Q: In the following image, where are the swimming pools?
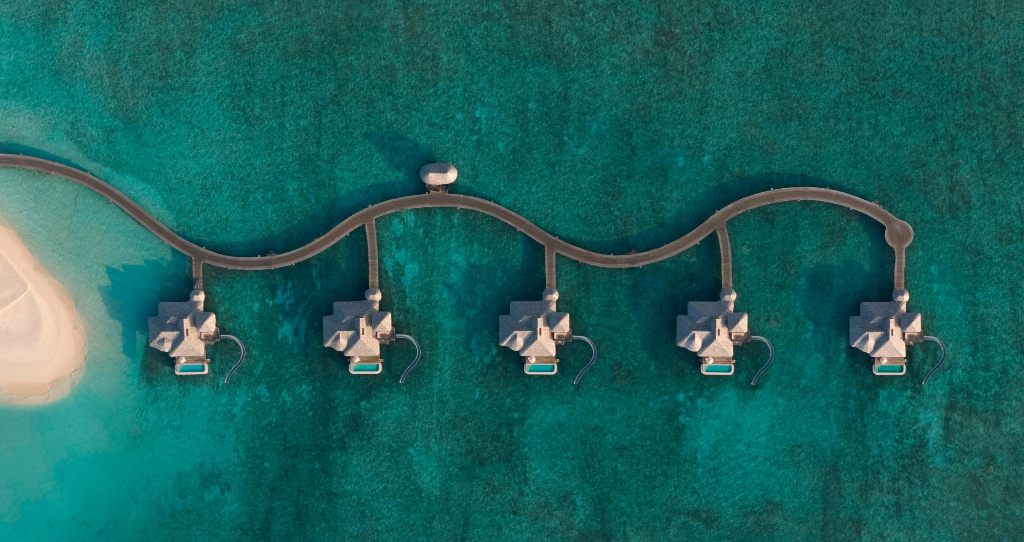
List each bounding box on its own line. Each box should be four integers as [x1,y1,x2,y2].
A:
[872,364,906,375]
[175,364,209,374]
[348,363,382,374]
[700,364,734,374]
[524,364,557,374]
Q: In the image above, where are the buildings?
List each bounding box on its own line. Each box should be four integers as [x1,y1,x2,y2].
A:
[420,162,458,194]
[848,289,927,365]
[677,289,755,365]
[323,288,402,364]
[147,288,226,364]
[499,289,578,364]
